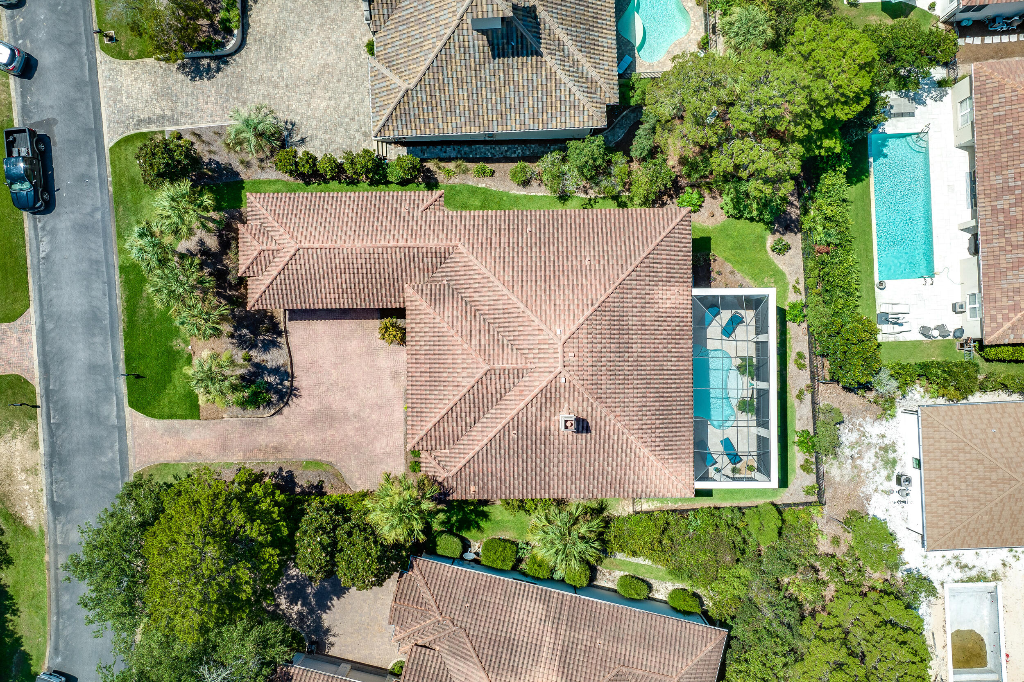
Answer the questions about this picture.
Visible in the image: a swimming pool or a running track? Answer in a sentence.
There is a swimming pool in the scene.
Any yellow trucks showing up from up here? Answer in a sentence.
No, no yellow truck can be seen from above.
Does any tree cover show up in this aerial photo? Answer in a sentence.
Yes, tree cover shows up in the scene.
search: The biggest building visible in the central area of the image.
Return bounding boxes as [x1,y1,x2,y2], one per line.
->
[235,189,697,502]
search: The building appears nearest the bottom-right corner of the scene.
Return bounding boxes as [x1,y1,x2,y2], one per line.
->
[901,397,1024,554]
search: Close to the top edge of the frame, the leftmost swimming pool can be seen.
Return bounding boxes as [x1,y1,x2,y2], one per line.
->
[619,0,691,60]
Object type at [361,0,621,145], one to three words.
house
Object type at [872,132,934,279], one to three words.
swimming pool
